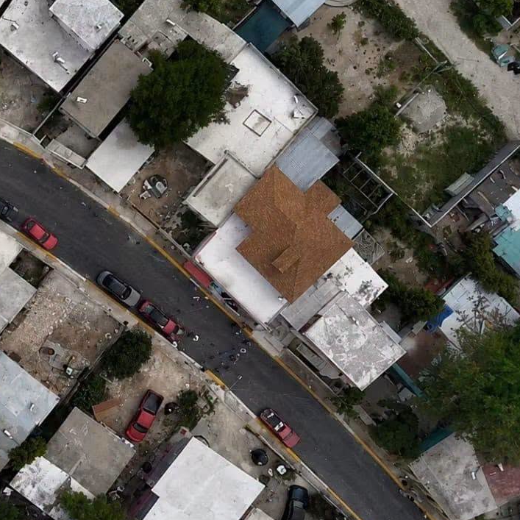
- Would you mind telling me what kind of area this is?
residential area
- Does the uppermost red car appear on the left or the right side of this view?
left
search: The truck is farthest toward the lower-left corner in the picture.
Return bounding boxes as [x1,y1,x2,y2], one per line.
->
[127,388,163,443]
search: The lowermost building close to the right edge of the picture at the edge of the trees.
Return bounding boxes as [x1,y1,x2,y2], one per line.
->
[396,426,520,520]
